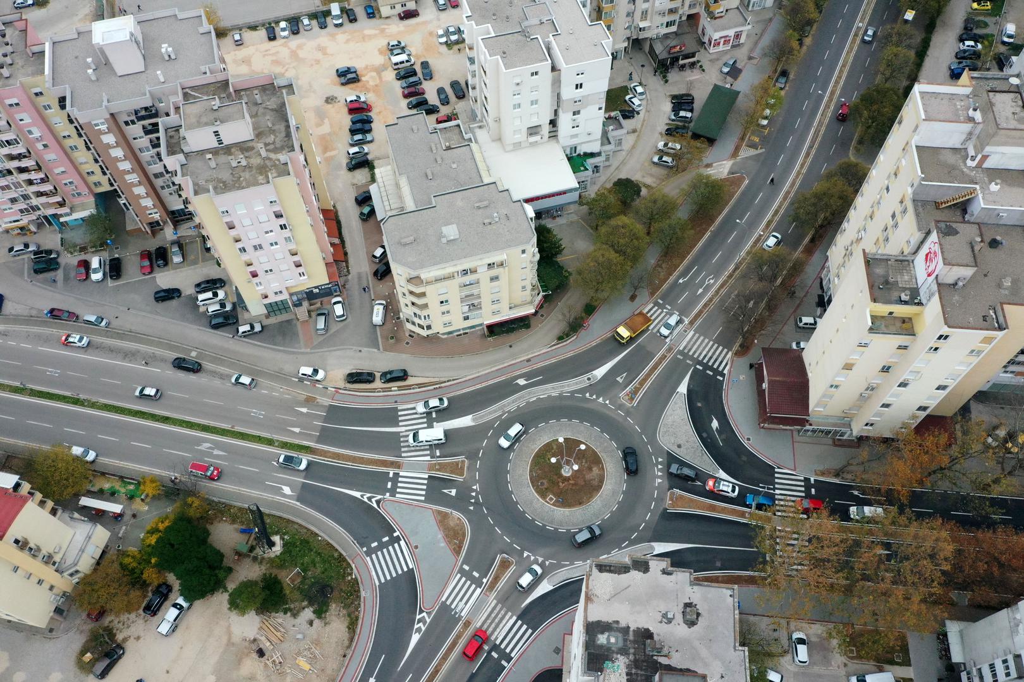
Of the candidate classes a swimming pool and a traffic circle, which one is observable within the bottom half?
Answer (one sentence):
Visible within the bottom half is a traffic circle.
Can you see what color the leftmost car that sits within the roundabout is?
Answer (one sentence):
From above, the leftmost car that sits within the roundabout appears white.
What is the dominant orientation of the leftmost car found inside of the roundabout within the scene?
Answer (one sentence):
What the image shows is the leftmost car found inside of the roundabout lying at an angle.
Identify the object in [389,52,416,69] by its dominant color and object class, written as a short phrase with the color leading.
white vehicle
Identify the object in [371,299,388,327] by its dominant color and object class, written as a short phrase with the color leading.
white vehicle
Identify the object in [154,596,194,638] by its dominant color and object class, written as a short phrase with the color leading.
white truck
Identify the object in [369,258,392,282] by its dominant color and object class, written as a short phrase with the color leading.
black car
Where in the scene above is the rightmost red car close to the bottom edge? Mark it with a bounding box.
[460,628,490,664]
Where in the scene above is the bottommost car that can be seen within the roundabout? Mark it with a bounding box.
[570,522,605,550]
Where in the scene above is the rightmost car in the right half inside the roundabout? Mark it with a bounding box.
[623,446,639,477]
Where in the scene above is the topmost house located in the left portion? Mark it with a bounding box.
[376,0,419,31]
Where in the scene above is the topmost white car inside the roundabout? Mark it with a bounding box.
[496,420,528,450]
